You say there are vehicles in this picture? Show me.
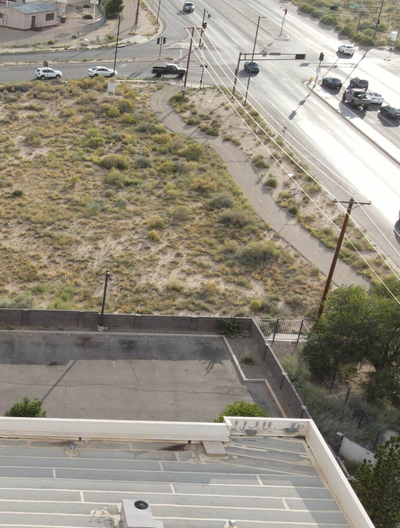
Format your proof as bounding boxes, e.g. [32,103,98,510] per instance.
[35,68,62,78]
[88,67,116,77]
[382,107,400,119]
[151,62,187,76]
[344,91,367,108]
[184,2,194,11]
[324,76,341,88]
[365,92,386,105]
[338,46,357,54]
[350,76,368,89]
